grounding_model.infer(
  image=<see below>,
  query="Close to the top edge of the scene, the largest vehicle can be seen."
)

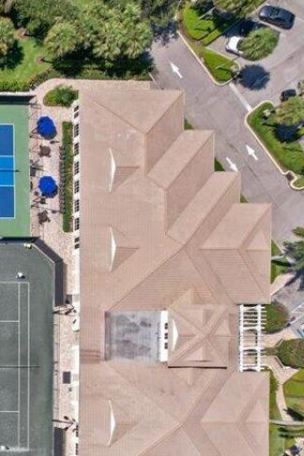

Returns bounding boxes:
[258,5,299,28]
